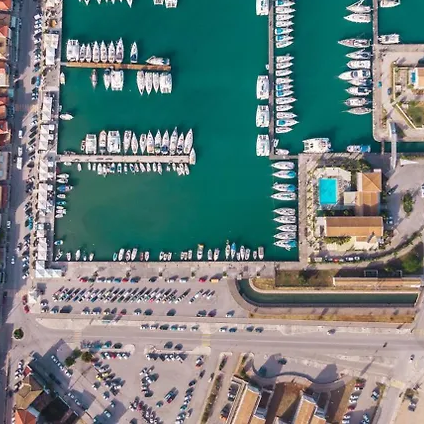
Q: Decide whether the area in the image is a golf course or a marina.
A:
marina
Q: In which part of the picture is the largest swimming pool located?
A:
right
